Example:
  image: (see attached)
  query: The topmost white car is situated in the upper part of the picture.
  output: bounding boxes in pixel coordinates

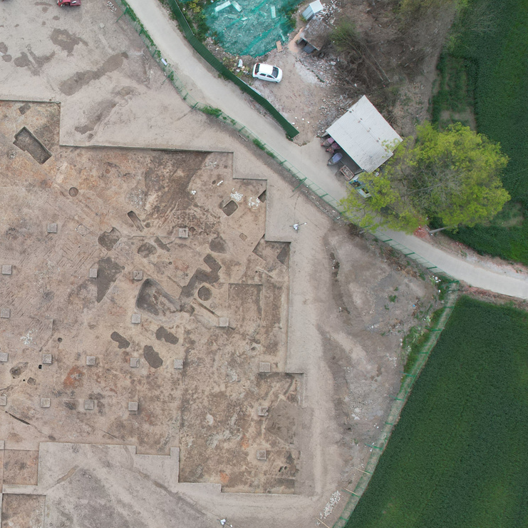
[250,63,284,83]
